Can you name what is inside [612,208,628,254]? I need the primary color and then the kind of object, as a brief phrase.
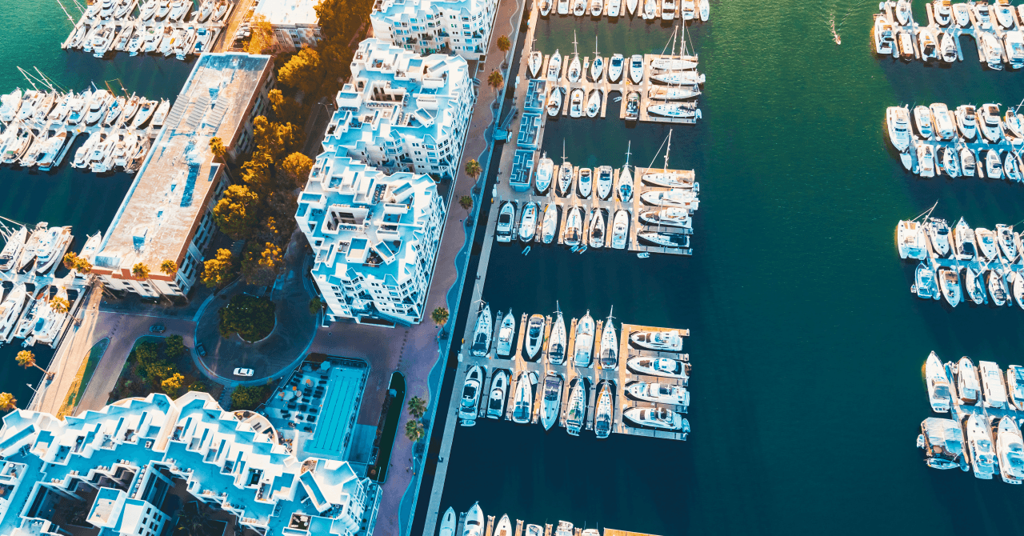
white boat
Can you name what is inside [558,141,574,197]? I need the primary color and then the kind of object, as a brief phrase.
white boat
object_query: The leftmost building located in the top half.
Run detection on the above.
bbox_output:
[81,47,279,296]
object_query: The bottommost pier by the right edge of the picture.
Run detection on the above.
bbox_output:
[942,356,1024,472]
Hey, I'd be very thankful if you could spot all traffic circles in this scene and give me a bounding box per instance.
[186,276,321,389]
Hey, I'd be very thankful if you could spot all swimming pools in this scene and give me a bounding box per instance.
[259,351,370,461]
